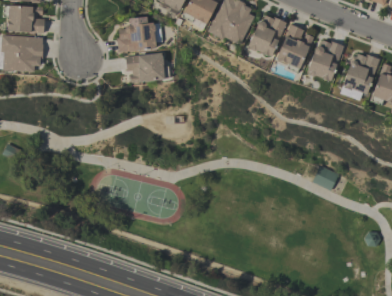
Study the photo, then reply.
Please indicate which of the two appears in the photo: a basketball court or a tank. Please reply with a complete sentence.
This aerial view contains a basketball court.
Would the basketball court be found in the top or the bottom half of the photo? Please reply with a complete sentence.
You can find the basketball court in the bottom half.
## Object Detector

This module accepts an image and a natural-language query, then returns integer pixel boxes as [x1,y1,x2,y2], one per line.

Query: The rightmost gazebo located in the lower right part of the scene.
[364,230,383,248]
